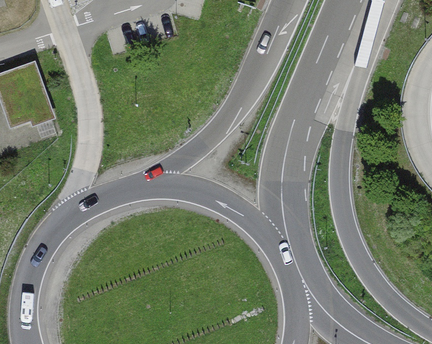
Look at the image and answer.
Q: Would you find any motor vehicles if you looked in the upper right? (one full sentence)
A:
Yes, a motor vehicle is visible in the upper right.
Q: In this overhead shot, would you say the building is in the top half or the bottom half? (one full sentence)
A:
You can find the building in the top half.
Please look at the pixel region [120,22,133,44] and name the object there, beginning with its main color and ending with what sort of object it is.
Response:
black vehicle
